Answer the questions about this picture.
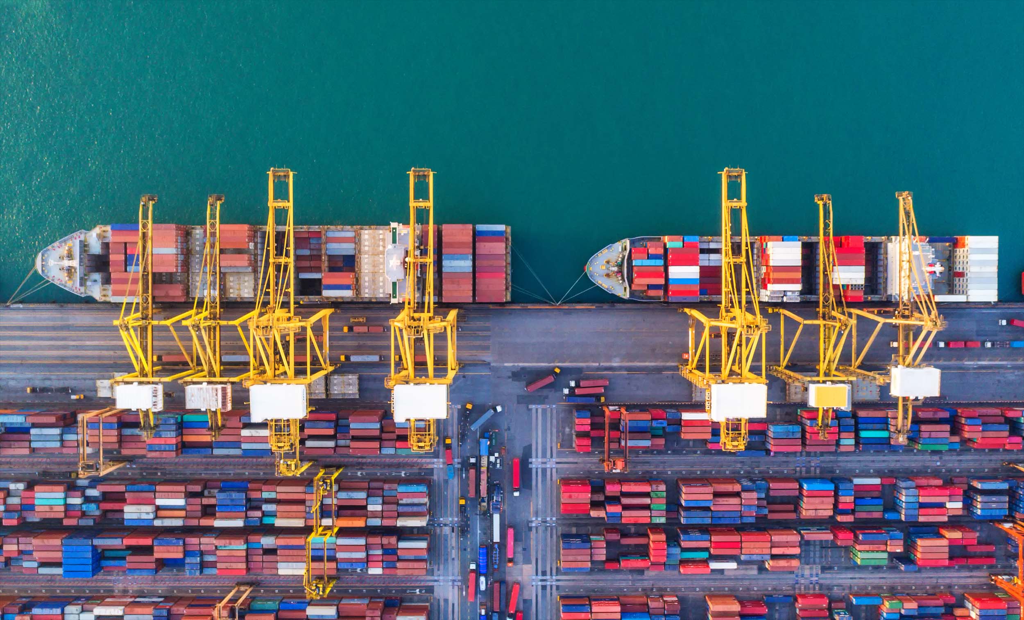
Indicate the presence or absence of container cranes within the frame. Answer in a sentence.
Yes, there is a container crane in the image.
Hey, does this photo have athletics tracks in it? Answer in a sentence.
No, there isn't any athletics track down there.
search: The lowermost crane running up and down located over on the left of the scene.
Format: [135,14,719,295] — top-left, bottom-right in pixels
[305,525,337,599]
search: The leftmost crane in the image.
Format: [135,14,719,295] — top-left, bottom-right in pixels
[79,406,122,479]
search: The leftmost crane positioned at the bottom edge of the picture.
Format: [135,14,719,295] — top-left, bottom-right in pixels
[217,583,253,620]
